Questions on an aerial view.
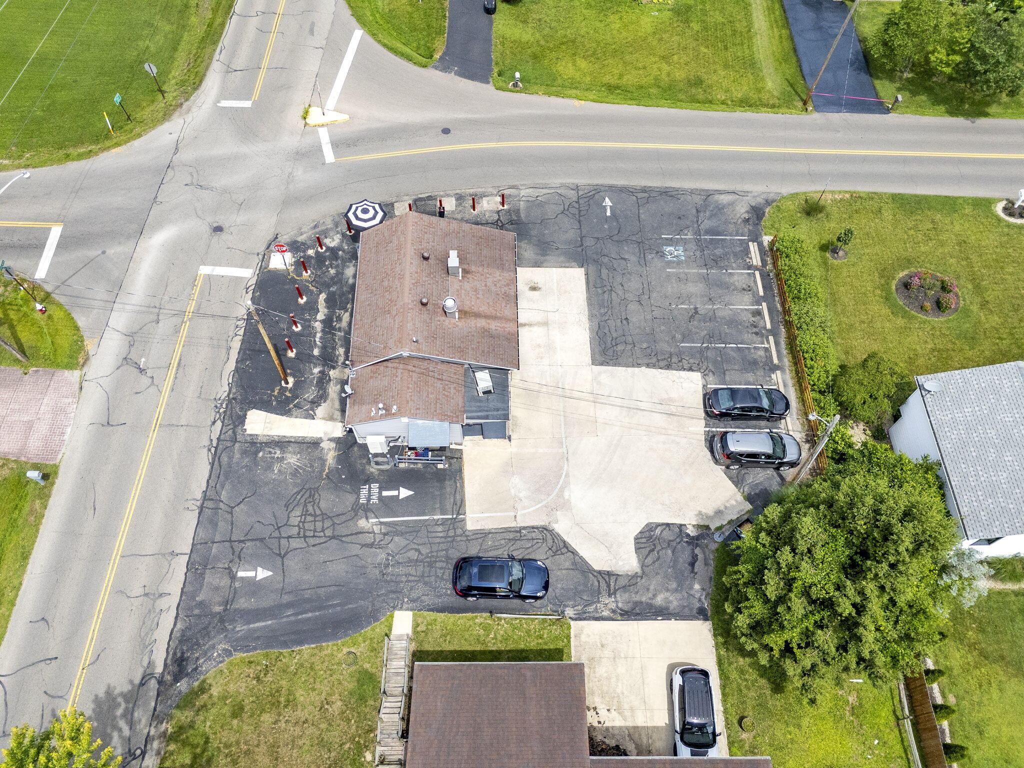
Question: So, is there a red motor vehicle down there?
No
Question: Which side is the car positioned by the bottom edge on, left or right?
right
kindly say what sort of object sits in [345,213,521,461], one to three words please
building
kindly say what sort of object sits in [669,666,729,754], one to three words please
car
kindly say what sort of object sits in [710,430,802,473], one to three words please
car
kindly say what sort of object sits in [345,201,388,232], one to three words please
umbrella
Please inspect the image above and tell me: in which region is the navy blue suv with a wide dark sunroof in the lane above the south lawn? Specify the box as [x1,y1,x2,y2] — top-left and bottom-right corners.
[453,554,549,604]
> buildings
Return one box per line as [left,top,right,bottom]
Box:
[345,213,521,461]
[406,659,773,768]
[888,359,1024,558]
